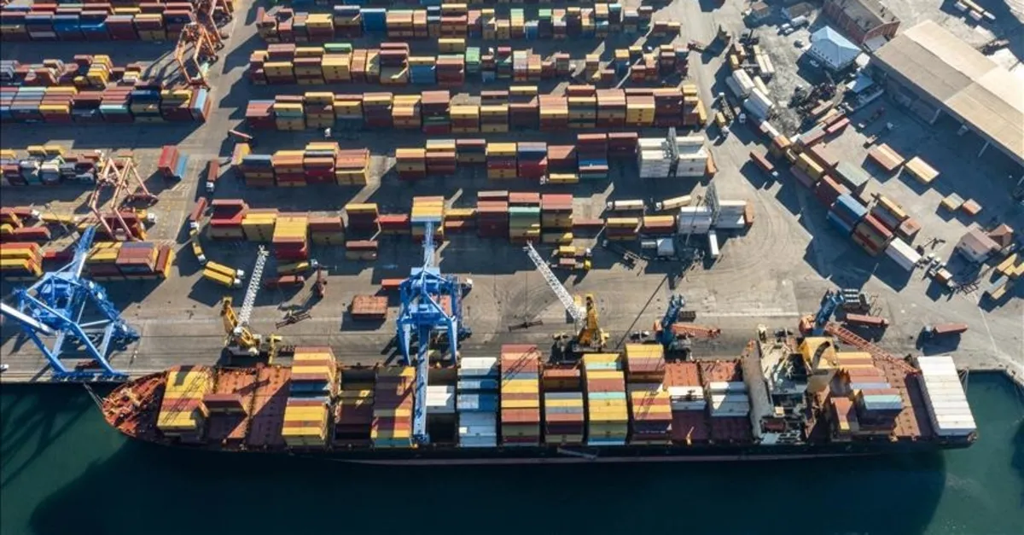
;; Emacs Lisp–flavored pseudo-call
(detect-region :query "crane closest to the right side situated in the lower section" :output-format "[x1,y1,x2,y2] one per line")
[797,288,916,375]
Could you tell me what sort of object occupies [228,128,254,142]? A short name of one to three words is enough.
vehicle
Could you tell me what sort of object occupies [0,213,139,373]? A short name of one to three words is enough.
container crane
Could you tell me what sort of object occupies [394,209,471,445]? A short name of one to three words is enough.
container crane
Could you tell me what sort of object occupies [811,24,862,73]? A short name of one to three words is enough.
house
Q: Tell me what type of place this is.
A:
port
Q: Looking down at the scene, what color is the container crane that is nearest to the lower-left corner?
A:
blue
